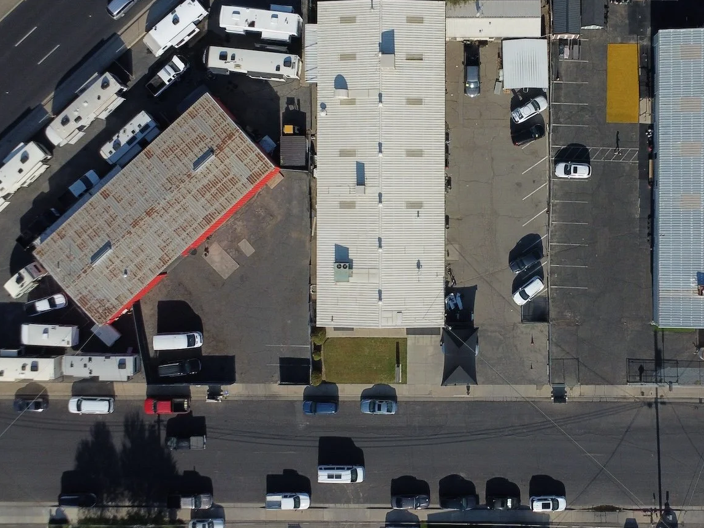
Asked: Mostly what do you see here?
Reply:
paved ground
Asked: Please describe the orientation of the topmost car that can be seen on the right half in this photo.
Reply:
vertically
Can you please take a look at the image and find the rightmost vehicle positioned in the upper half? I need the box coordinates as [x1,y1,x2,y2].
[554,162,591,180]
